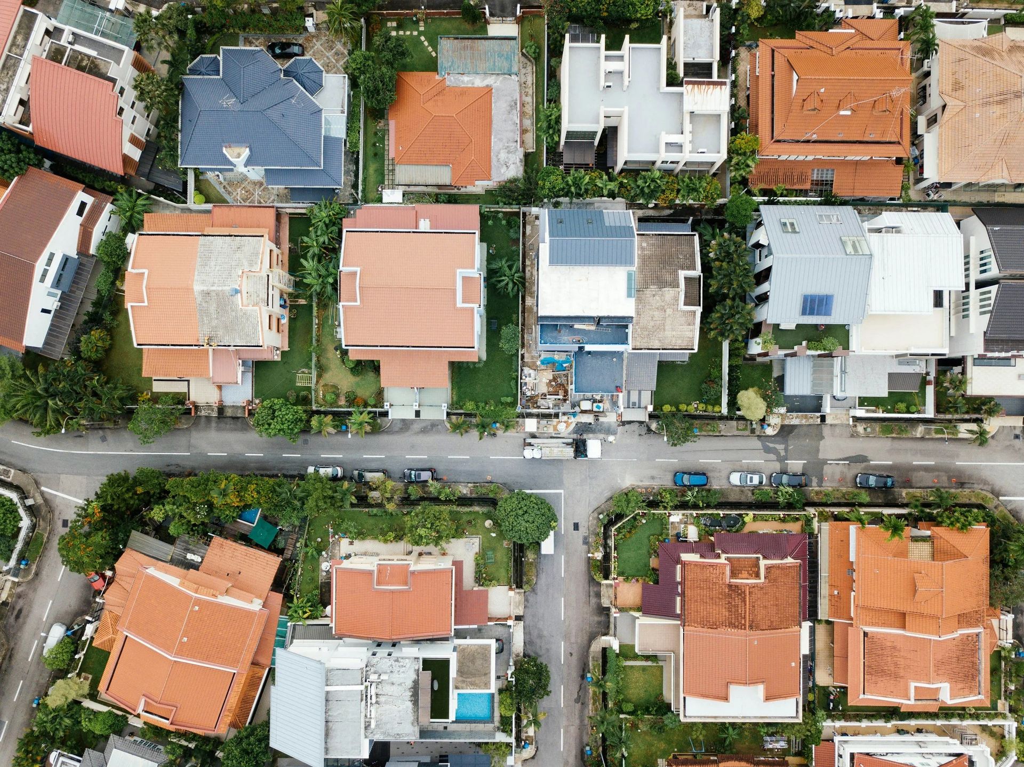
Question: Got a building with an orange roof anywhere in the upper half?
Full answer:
Yes, the scene does show a building with an orange roof in the upper half.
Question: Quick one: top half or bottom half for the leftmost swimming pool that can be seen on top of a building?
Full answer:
The leftmost swimming pool that can be seen on top of a building is in the bottom half of the image.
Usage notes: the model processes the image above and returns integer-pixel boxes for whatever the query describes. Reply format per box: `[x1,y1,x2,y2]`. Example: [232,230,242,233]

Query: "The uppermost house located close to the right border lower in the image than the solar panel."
[817,522,1001,712]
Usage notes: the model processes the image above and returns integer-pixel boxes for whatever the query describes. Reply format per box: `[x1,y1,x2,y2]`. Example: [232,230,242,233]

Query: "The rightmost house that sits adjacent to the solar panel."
[838,212,965,396]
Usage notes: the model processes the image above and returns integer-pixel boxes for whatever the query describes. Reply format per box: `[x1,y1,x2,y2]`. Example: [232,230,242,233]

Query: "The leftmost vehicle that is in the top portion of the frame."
[268,41,305,59]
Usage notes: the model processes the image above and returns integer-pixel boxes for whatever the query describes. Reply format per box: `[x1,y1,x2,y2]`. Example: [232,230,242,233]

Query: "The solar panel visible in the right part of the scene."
[801,294,833,316]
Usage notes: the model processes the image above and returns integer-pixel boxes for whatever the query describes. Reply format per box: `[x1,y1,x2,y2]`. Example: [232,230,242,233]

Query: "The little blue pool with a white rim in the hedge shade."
[236,507,259,526]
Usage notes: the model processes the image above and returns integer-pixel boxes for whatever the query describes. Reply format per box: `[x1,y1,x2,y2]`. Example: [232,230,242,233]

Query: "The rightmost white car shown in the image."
[728,471,765,488]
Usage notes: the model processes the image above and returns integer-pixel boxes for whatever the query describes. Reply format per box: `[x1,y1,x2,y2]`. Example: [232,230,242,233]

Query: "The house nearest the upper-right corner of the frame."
[909,31,1024,190]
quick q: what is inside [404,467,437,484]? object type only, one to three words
car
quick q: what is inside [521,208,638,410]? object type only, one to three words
house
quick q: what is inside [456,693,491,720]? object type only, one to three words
swimming pool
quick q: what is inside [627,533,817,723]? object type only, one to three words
house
